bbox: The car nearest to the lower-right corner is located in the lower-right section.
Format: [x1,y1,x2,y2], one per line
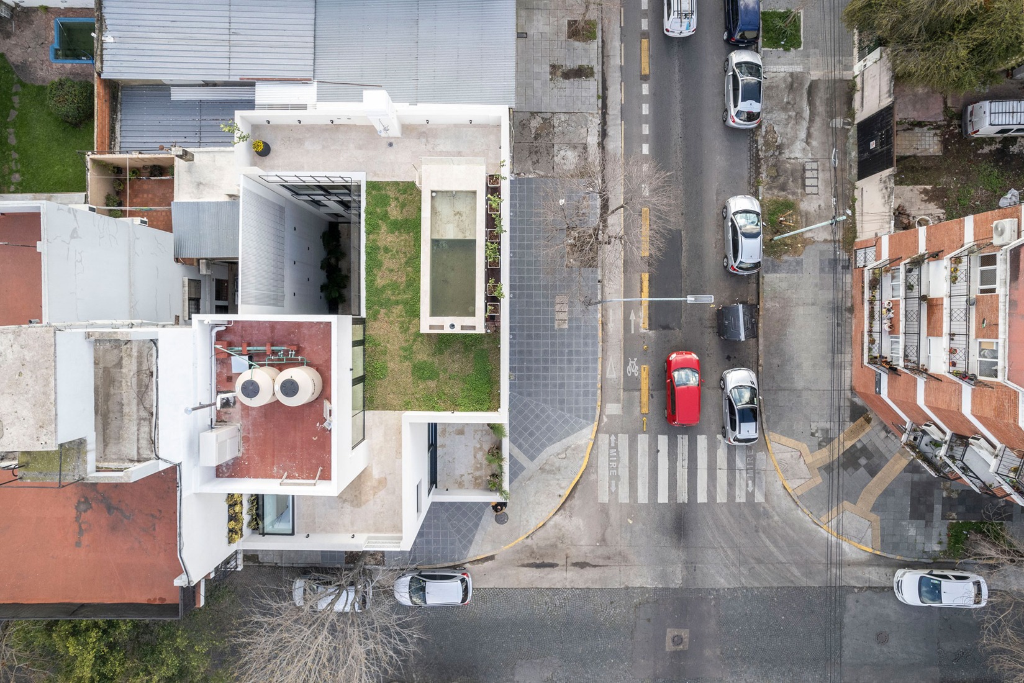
[893,565,986,612]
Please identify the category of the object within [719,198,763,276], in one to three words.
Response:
car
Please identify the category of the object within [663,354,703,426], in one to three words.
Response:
car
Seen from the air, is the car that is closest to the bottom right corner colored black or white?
white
